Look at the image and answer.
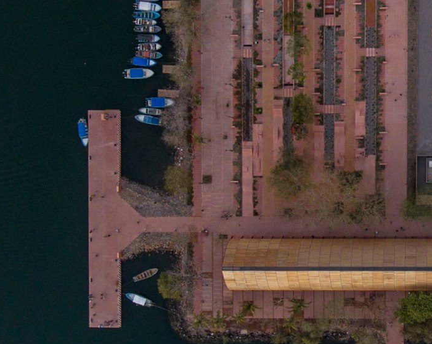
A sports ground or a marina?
marina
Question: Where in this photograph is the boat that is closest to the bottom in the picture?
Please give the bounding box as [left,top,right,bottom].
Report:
[126,294,154,308]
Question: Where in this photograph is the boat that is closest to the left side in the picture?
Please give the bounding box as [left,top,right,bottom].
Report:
[76,117,89,146]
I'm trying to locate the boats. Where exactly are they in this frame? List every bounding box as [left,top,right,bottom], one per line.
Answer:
[128,56,156,67]
[132,0,161,12]
[133,43,161,51]
[126,294,154,308]
[142,97,174,107]
[76,117,89,146]
[134,34,159,42]
[132,51,162,59]
[130,11,160,18]
[132,18,157,25]
[132,269,158,282]
[139,107,162,115]
[134,115,162,127]
[121,68,154,78]
[131,25,161,33]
